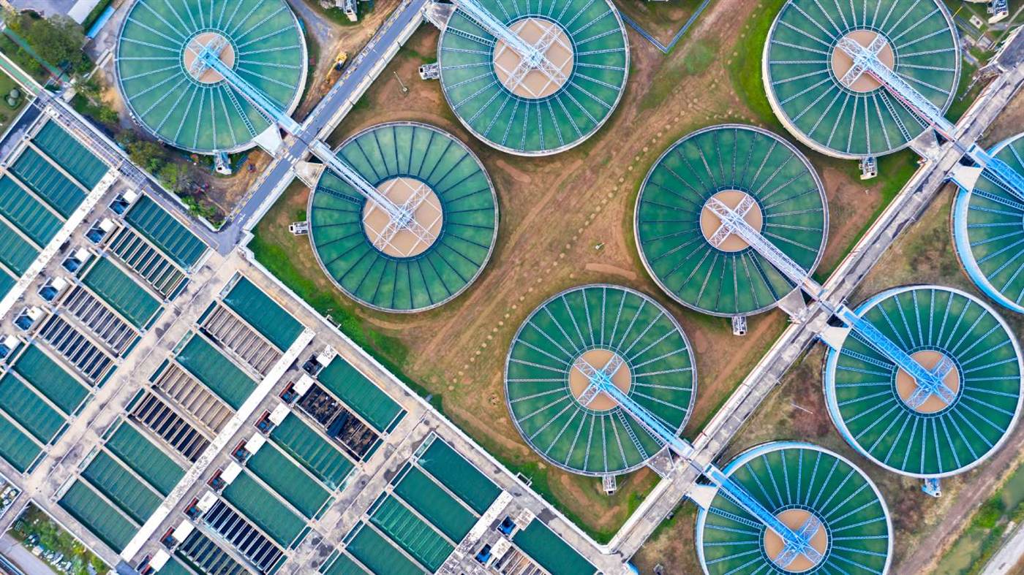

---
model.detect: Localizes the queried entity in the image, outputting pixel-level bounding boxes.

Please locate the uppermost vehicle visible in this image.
[325,48,351,76]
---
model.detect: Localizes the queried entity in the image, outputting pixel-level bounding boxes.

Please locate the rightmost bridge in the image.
[962,144,1024,205]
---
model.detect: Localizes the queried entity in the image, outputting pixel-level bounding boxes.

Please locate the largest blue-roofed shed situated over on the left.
[87,6,117,39]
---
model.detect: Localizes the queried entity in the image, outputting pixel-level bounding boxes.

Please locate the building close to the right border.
[971,9,1024,95]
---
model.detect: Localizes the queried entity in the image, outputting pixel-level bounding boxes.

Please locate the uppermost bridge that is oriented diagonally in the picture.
[450,0,549,72]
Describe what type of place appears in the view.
industrial area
